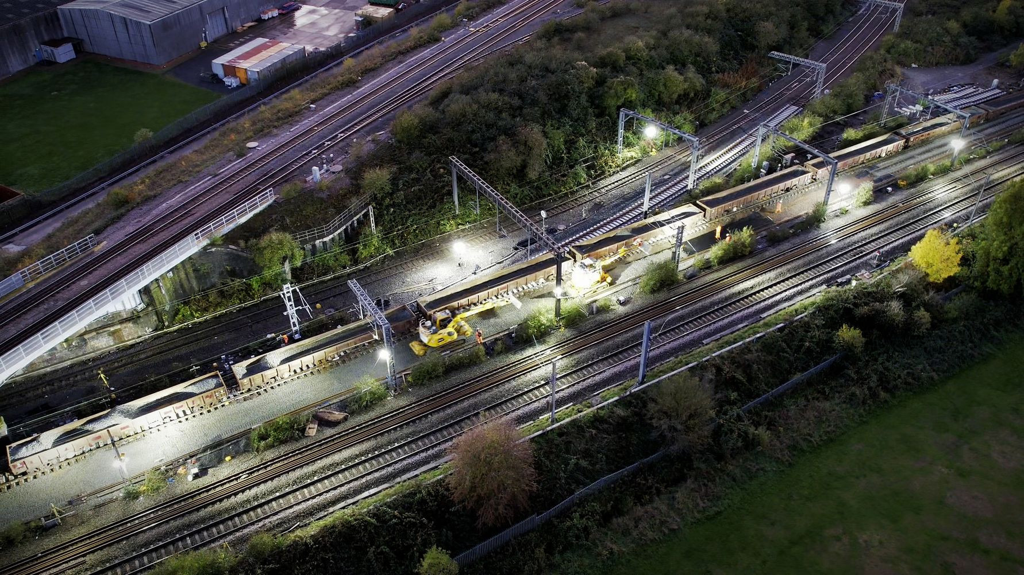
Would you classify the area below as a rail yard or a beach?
rail yard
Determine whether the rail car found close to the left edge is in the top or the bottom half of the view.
bottom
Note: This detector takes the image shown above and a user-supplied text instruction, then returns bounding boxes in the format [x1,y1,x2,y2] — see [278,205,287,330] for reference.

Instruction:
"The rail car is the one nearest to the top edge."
[966,80,1024,120]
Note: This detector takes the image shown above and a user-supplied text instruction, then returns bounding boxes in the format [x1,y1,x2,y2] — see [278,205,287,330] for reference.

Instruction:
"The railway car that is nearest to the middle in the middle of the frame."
[411,248,574,324]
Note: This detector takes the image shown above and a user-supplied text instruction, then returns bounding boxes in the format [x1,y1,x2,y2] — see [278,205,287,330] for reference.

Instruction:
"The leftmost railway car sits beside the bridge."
[5,367,235,475]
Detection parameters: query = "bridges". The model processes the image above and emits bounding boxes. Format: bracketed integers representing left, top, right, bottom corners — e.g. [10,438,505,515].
[0,190,282,387]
